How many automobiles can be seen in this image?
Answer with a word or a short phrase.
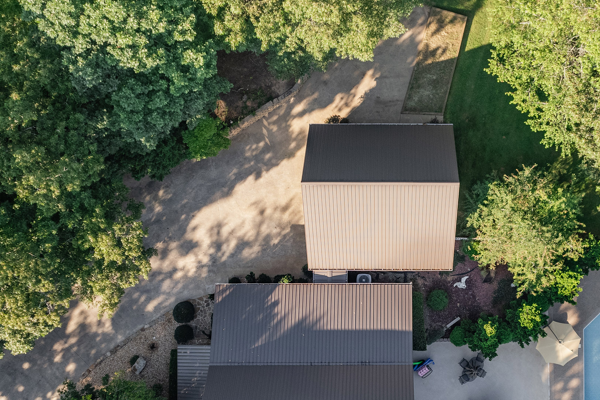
0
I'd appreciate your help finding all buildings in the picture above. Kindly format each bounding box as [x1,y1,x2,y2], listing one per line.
[301,122,460,272]
[178,280,415,400]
